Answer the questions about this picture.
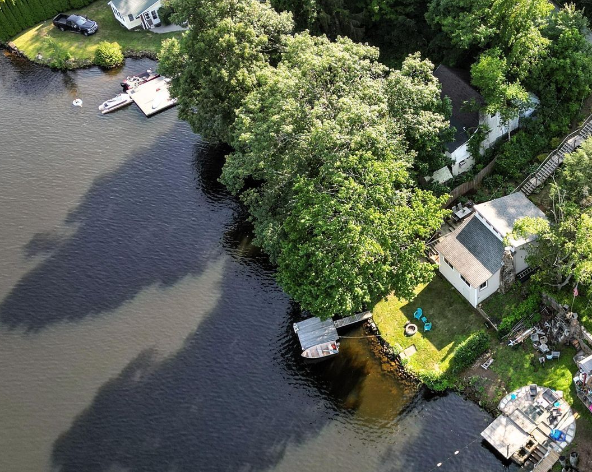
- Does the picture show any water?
Yes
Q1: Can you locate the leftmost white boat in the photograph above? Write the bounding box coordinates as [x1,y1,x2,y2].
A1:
[101,94,127,111]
